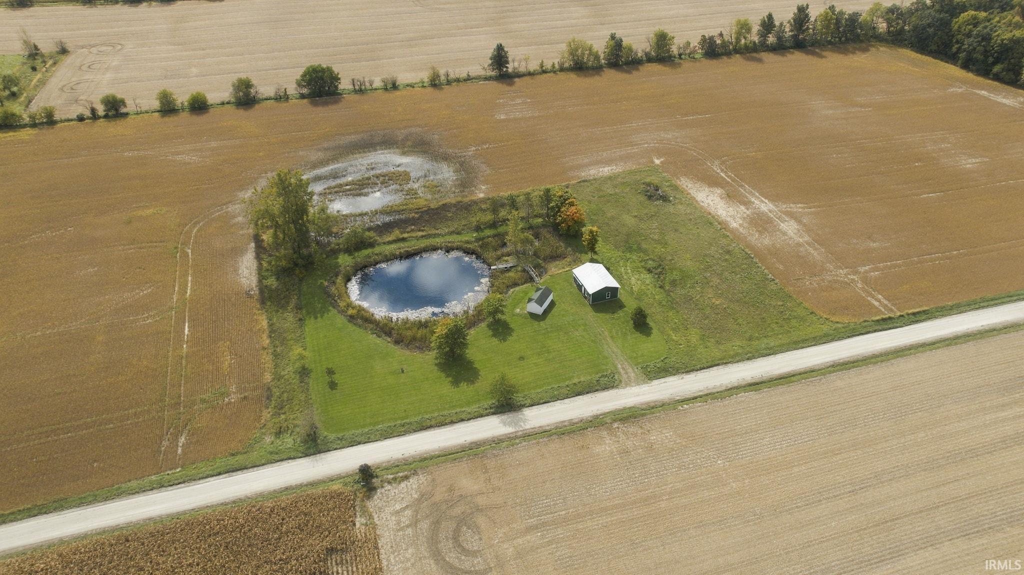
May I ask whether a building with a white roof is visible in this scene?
Yes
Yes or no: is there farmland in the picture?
Yes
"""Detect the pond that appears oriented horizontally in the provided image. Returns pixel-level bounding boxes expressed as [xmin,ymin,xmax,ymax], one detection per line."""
[349,250,490,319]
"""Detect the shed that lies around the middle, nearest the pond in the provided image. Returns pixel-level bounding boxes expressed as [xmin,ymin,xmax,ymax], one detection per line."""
[526,286,552,314]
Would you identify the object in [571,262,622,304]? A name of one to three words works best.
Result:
building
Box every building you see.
[526,286,552,314]
[571,262,622,304]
